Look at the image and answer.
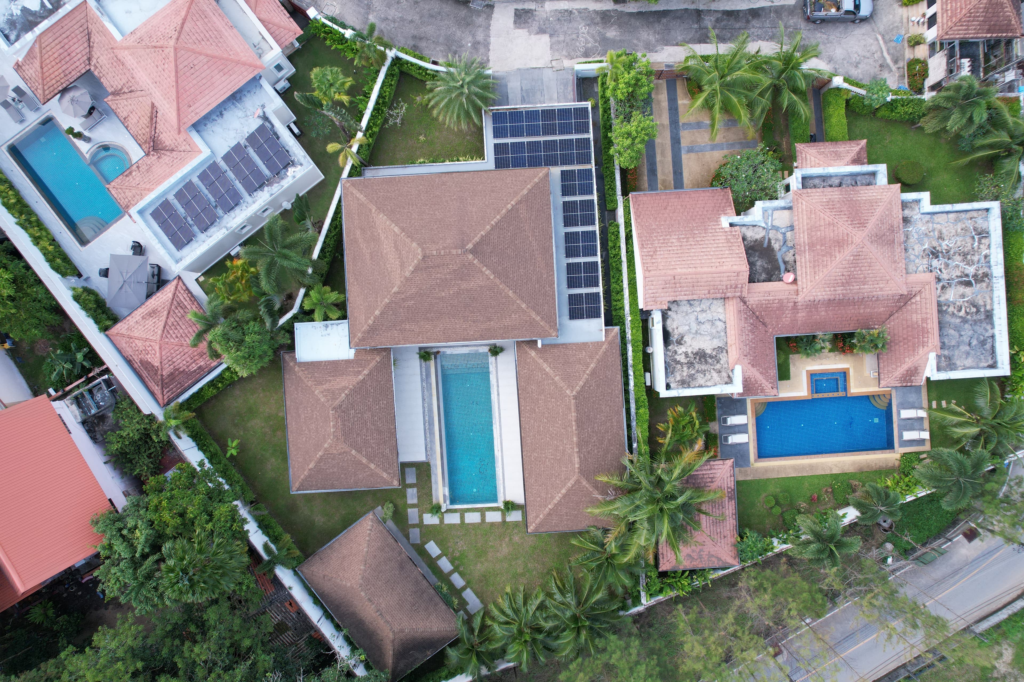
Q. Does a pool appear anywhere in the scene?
Yes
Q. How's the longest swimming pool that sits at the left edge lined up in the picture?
on a diagonal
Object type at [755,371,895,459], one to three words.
swimming pool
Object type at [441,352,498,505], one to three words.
swimming pool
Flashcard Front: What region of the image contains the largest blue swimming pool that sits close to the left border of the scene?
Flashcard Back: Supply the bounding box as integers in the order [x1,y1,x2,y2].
[6,114,124,246]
